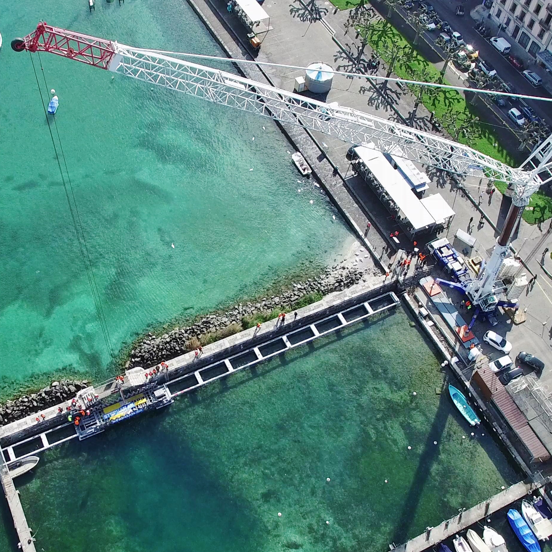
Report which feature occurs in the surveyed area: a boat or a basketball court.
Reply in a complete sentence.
I can see a boat in this picture.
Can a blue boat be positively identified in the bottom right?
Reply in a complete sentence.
Yes, the scene does show a blue boat in the bottom right.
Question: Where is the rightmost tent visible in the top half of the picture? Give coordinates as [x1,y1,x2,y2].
[419,193,456,235]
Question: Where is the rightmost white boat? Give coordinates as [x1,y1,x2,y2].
[521,499,552,552]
